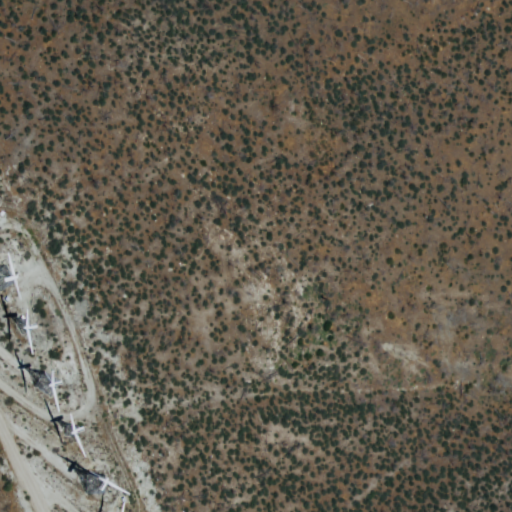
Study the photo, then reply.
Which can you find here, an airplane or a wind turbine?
wind turbine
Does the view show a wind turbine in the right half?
No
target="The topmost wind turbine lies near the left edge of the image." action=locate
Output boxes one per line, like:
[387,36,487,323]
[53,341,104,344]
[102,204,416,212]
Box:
[0,254,22,298]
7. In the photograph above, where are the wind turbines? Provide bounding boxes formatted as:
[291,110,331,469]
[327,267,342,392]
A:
[0,254,22,298]
[18,310,40,352]
[88,474,130,495]
[64,414,86,456]
[38,371,65,410]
